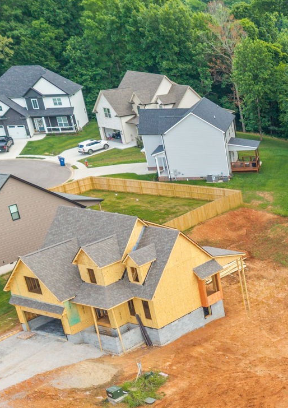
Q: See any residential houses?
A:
Yes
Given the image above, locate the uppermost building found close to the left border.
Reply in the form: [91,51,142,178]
[0,67,93,135]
